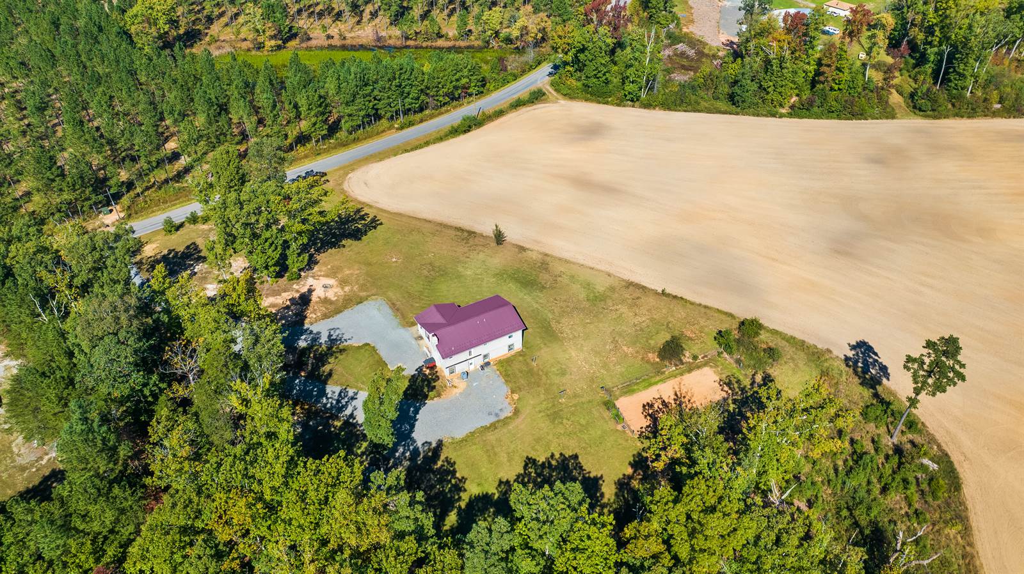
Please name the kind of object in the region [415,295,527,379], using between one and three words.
house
